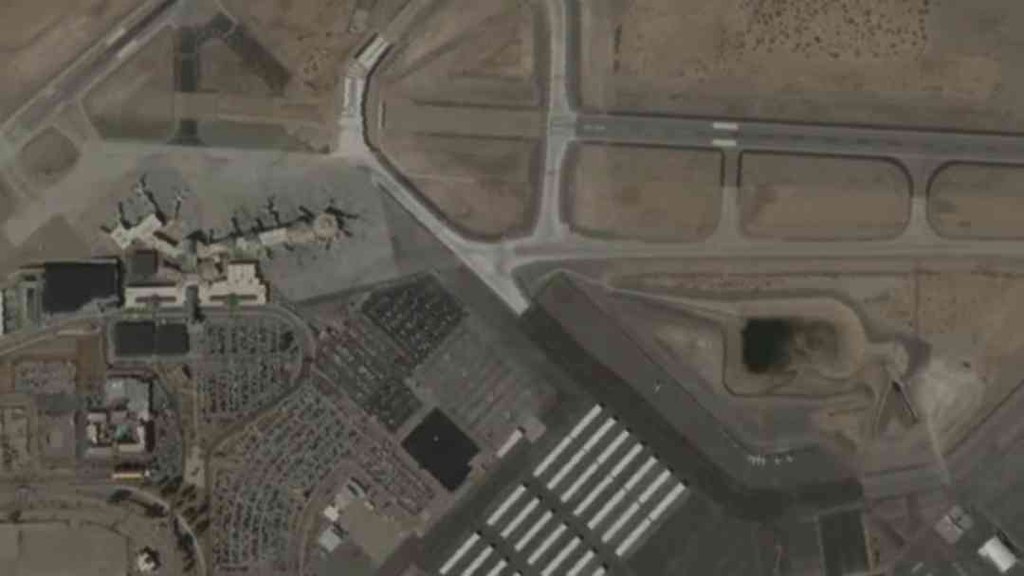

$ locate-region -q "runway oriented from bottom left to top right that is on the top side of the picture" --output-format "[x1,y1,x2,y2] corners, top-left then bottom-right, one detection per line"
[0,0,189,162]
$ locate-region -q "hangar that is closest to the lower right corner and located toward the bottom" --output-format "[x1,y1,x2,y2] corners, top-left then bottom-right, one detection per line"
[979,537,1017,573]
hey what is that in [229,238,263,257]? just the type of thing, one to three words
building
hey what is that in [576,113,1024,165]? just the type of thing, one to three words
runway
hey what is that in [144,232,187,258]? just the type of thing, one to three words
building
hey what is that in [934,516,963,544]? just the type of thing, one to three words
hangar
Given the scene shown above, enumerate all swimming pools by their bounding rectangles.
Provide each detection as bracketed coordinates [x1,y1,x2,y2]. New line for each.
[114,424,131,439]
